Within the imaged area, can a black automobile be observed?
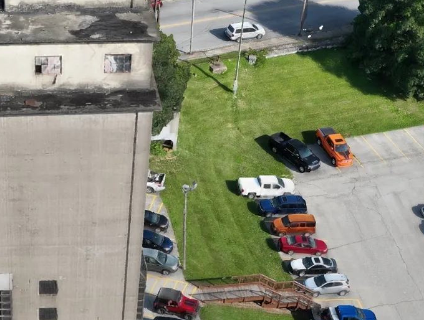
Yes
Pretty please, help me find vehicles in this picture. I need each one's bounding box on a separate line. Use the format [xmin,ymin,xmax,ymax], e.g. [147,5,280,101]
[319,132,349,165]
[286,256,339,276]
[301,273,352,297]
[146,0,160,7]
[144,211,169,234]
[147,176,167,194]
[152,286,201,320]
[147,251,180,276]
[277,236,327,255]
[258,194,308,216]
[143,231,173,255]
[239,176,294,196]
[271,214,317,236]
[308,306,375,320]
[273,137,315,168]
